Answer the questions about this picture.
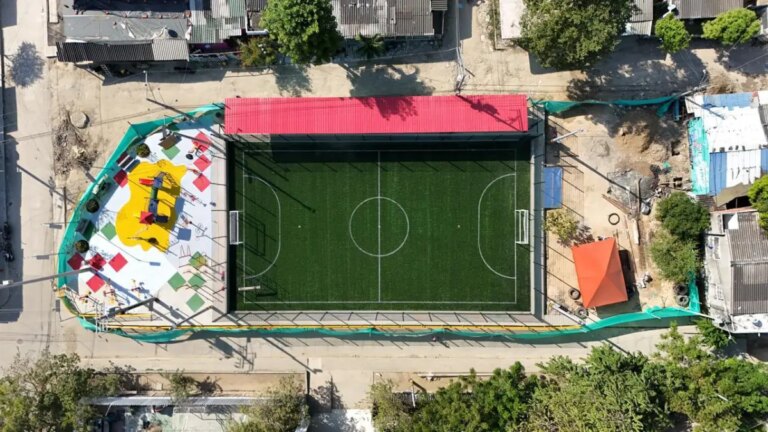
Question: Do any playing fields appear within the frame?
Yes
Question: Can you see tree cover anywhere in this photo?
Yes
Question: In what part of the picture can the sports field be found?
center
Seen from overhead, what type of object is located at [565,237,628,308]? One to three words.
tent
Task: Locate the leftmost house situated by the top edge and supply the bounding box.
[57,0,192,67]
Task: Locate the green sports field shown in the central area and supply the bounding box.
[230,140,530,311]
